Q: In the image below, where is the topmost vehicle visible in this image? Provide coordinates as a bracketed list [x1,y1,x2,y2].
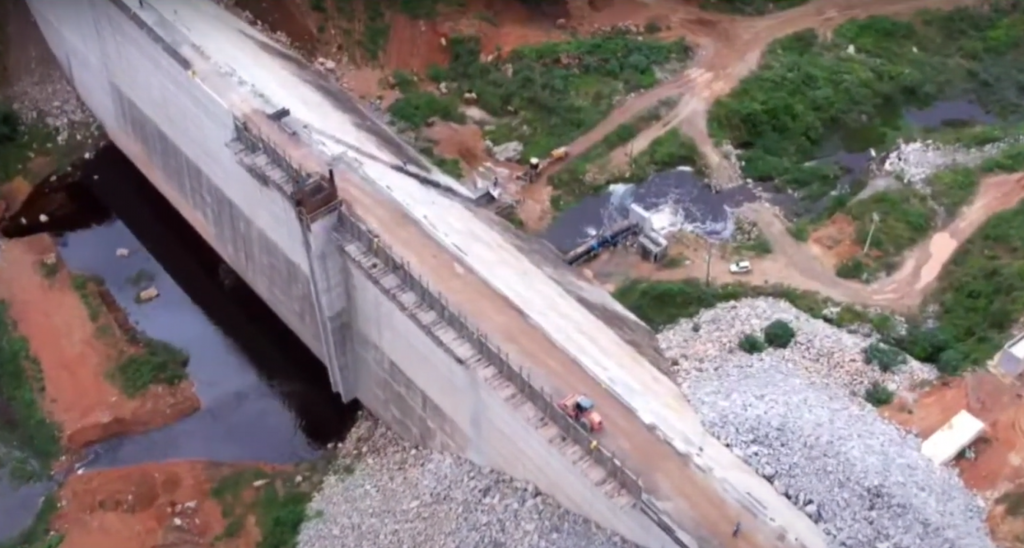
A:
[546,145,570,163]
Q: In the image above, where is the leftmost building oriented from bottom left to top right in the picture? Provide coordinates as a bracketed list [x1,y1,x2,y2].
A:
[919,411,985,466]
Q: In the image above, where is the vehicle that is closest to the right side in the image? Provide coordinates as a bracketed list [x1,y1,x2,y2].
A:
[727,260,753,274]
